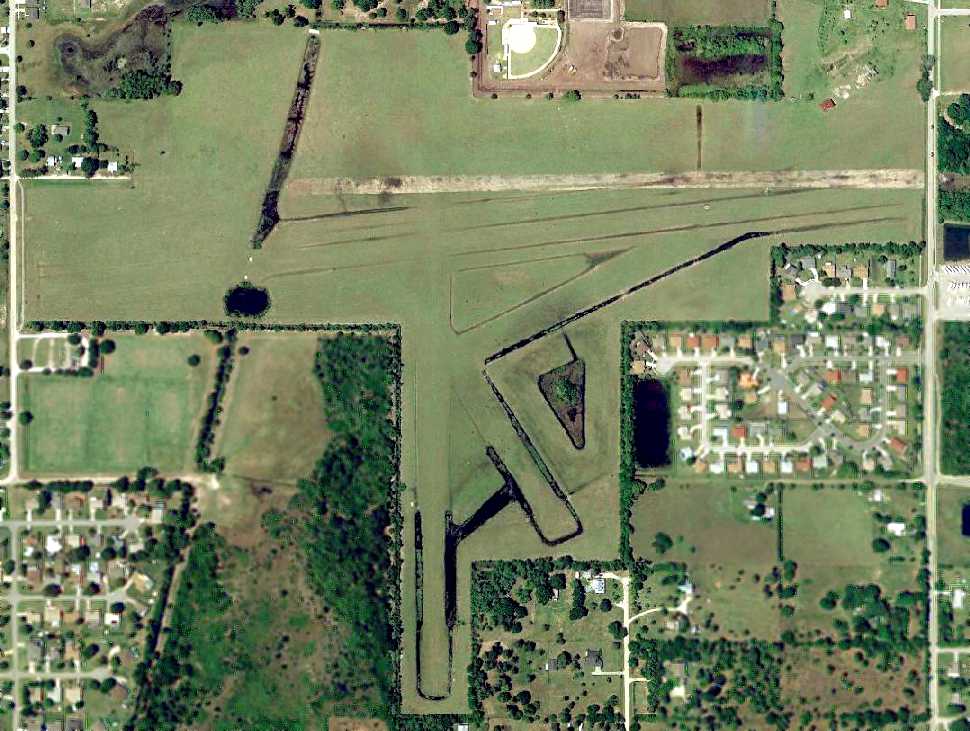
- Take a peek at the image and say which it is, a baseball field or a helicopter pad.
baseball field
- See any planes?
No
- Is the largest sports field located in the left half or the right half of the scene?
left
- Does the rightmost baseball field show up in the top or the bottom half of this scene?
top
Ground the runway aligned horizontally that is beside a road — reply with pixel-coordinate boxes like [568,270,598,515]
[284,169,924,194]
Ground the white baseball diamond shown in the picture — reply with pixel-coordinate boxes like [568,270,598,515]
[502,19,562,80]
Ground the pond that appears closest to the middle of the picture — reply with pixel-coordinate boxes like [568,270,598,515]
[636,379,670,468]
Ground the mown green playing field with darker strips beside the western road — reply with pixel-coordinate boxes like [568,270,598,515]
[18,336,211,474]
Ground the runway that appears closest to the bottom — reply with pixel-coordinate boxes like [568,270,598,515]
[417,195,447,690]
